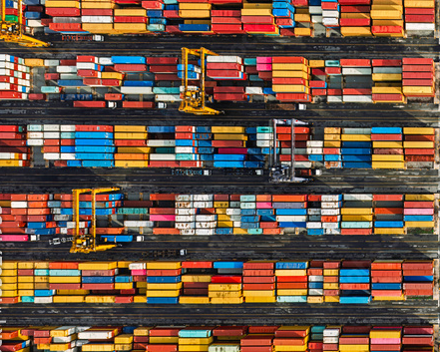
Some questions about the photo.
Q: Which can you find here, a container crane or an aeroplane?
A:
container crane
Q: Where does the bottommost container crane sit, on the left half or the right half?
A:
left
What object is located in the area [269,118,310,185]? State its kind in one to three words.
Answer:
container crane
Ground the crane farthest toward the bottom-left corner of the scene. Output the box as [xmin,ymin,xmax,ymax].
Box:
[71,187,124,254]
